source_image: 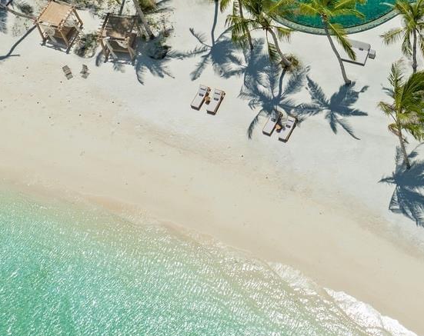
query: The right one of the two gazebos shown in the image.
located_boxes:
[96,11,144,52]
